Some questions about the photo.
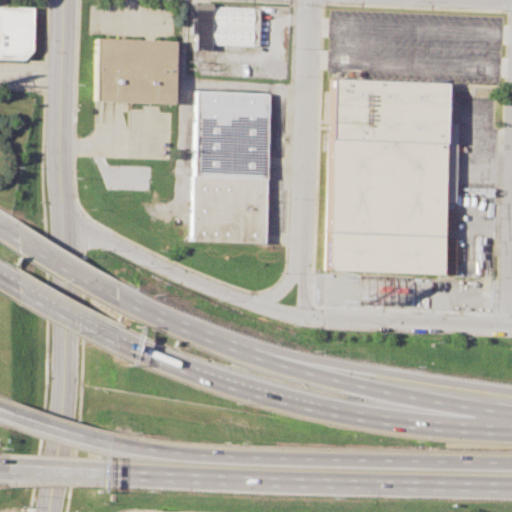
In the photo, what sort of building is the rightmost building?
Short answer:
warehouse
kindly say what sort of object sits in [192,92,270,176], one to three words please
building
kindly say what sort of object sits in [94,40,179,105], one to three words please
building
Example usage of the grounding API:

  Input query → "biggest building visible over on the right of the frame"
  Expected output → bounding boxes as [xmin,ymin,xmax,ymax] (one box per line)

[322,81,453,274]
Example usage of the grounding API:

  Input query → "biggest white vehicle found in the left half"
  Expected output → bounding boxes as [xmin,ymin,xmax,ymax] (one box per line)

[142,346,185,369]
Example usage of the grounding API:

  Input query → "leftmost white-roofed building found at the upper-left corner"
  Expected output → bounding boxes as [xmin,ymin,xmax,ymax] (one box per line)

[0,6,36,62]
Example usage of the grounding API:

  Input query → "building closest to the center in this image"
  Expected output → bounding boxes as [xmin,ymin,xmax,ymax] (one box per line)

[191,176,268,243]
